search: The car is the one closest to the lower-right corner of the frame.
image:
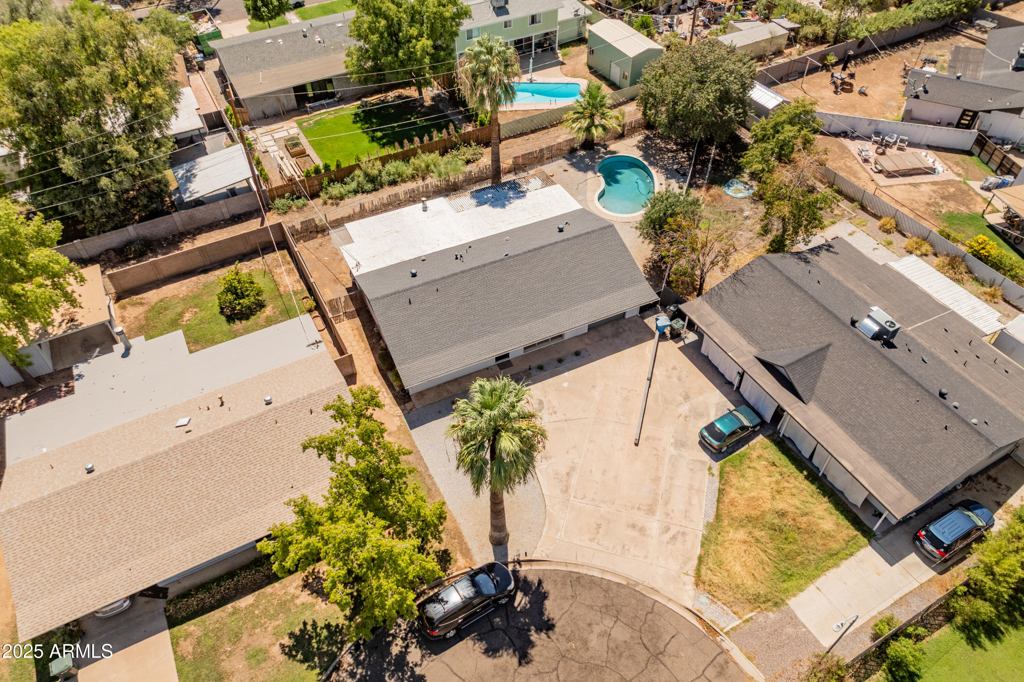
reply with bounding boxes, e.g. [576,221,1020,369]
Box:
[912,494,1003,567]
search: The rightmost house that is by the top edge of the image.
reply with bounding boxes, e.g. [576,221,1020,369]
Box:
[899,24,1024,147]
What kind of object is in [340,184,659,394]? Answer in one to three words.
house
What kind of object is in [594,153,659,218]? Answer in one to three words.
swimming pool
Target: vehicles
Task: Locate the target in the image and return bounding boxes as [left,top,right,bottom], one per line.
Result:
[87,597,132,624]
[289,0,306,6]
[411,558,522,649]
[694,401,770,457]
[912,494,1003,567]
